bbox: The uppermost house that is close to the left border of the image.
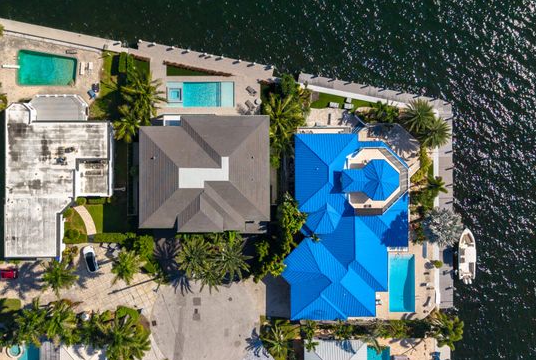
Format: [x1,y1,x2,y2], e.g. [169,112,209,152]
[5,95,115,258]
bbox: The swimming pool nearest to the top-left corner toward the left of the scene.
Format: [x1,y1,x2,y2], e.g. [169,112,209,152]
[17,49,79,87]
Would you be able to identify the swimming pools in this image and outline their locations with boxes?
[17,49,79,87]
[166,81,235,108]
[369,345,392,360]
[21,339,40,360]
[387,252,416,314]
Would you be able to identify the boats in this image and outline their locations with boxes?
[455,227,477,285]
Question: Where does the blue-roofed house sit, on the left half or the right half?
right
